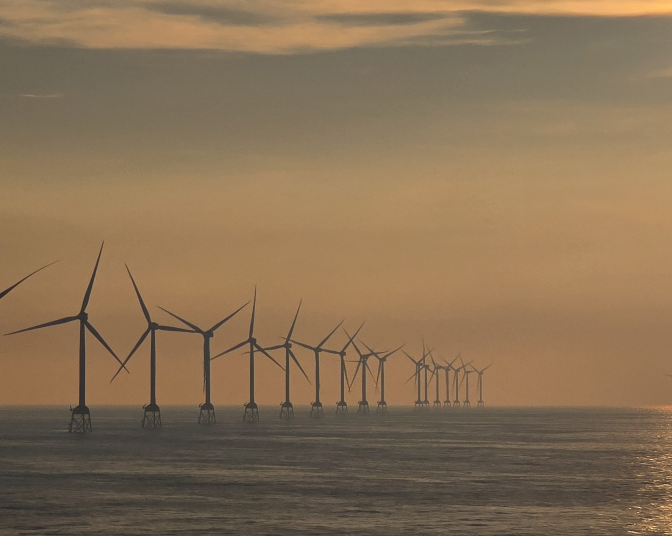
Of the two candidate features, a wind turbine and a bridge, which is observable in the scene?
wind turbine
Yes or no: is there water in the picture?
Yes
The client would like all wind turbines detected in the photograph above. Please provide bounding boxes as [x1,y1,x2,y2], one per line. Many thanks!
[467,363,489,408]
[0,260,65,301]
[342,326,386,414]
[279,316,339,417]
[423,343,452,410]
[209,285,283,422]
[438,356,471,409]
[357,341,400,413]
[458,355,479,408]
[409,340,436,410]
[110,262,207,428]
[3,238,126,433]
[396,348,434,412]
[430,351,456,409]
[241,298,308,420]
[310,321,360,416]
[155,298,246,426]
